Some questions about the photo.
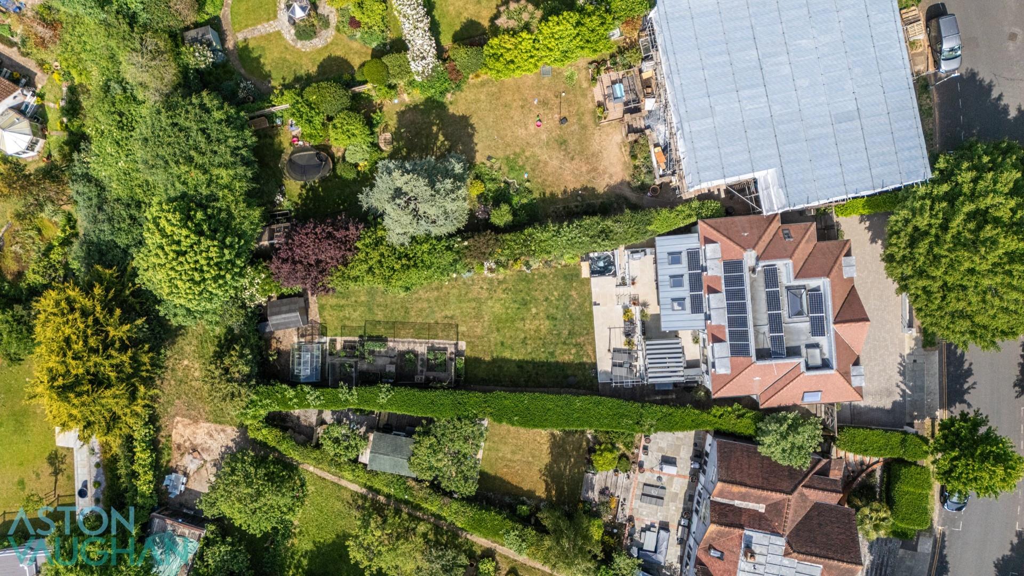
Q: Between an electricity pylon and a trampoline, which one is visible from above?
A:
trampoline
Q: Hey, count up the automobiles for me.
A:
2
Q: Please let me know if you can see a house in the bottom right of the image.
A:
Yes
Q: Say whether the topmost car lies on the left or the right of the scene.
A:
right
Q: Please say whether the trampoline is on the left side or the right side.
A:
left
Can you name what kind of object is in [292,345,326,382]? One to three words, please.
greenhouse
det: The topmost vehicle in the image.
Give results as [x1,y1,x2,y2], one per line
[929,14,962,74]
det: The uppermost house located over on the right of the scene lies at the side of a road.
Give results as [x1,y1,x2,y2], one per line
[652,0,931,217]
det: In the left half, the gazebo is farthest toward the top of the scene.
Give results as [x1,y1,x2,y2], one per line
[285,0,315,25]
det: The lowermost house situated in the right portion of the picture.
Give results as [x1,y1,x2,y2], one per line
[674,430,864,576]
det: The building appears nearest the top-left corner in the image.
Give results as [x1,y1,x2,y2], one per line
[0,75,53,116]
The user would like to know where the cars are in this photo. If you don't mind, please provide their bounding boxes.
[929,14,962,74]
[938,472,968,513]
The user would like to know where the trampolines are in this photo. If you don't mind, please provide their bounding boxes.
[280,146,333,182]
